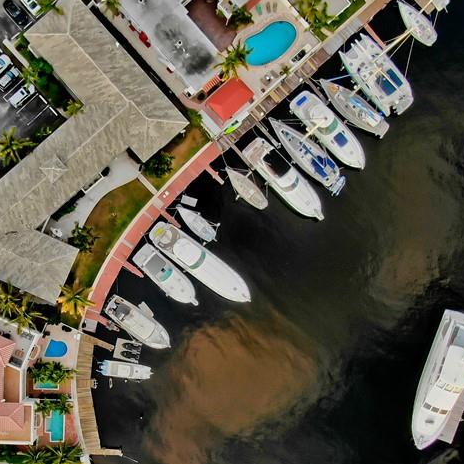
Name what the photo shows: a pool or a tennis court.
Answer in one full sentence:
Looking from above, you can make out a pool.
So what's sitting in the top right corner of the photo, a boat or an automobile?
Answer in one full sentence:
You can see a boat in the top right corner of the photo.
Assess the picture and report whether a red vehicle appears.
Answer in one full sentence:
No, the scene contains no red vehicle.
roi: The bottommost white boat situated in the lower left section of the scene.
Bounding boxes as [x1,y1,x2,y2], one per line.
[99,361,150,379]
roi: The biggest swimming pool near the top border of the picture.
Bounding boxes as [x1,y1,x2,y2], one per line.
[241,18,298,67]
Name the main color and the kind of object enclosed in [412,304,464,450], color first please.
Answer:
white boat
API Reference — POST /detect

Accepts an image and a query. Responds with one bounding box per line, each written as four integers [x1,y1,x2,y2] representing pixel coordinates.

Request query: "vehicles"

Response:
[0,67,22,92]
[1,0,30,30]
[0,53,13,76]
[20,0,44,19]
[9,82,37,110]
